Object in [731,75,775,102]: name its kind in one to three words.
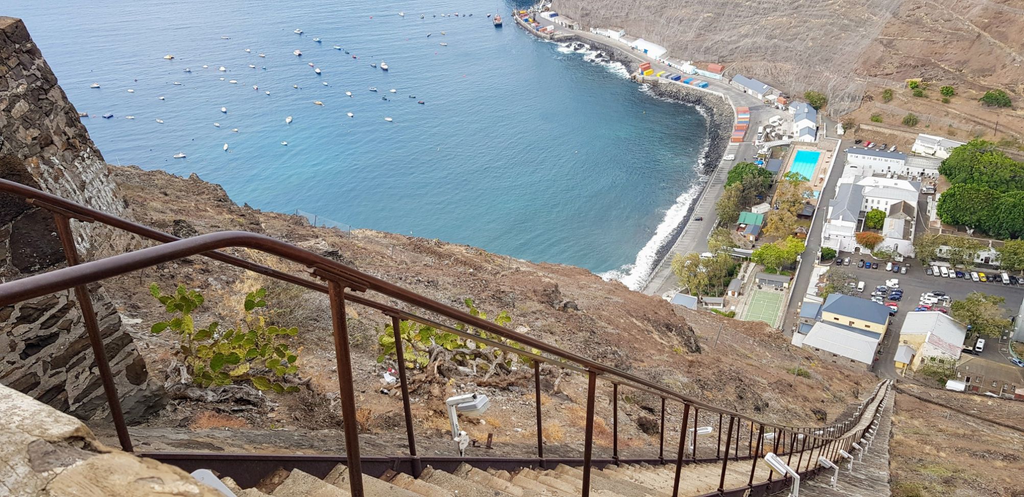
building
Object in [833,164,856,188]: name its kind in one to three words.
building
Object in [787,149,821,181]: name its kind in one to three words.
swimming pool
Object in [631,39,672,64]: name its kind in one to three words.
shed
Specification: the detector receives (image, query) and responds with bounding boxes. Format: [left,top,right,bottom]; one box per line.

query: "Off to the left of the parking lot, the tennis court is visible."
[738,290,784,337]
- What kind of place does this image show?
port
